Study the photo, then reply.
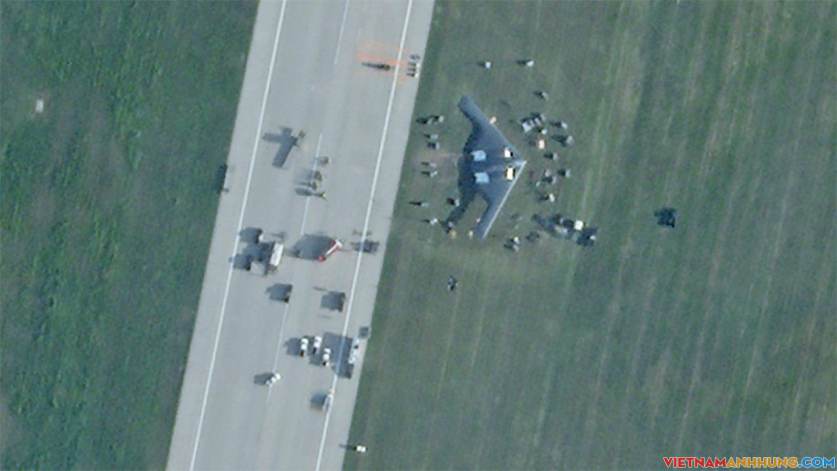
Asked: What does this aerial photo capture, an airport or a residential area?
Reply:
airport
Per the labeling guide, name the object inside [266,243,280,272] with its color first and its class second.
white vehicle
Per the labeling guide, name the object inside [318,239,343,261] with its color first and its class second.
white truck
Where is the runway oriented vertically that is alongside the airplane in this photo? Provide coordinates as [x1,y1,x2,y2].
[167,0,435,471]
